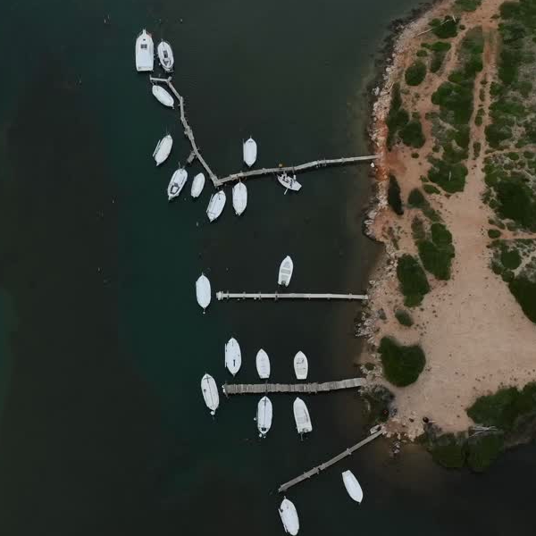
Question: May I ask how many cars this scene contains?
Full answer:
There are no cars in this view.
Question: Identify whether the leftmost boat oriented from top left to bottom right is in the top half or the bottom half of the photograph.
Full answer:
The top half of the photo is where the leftmost boat oriented from top left to bottom right is.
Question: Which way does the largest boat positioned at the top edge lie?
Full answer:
The largest boat positioned at the top edge runs vertically in the image.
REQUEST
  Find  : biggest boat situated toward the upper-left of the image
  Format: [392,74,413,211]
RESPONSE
[134,27,154,76]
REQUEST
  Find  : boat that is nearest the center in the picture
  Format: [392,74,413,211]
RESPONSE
[277,256,293,289]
